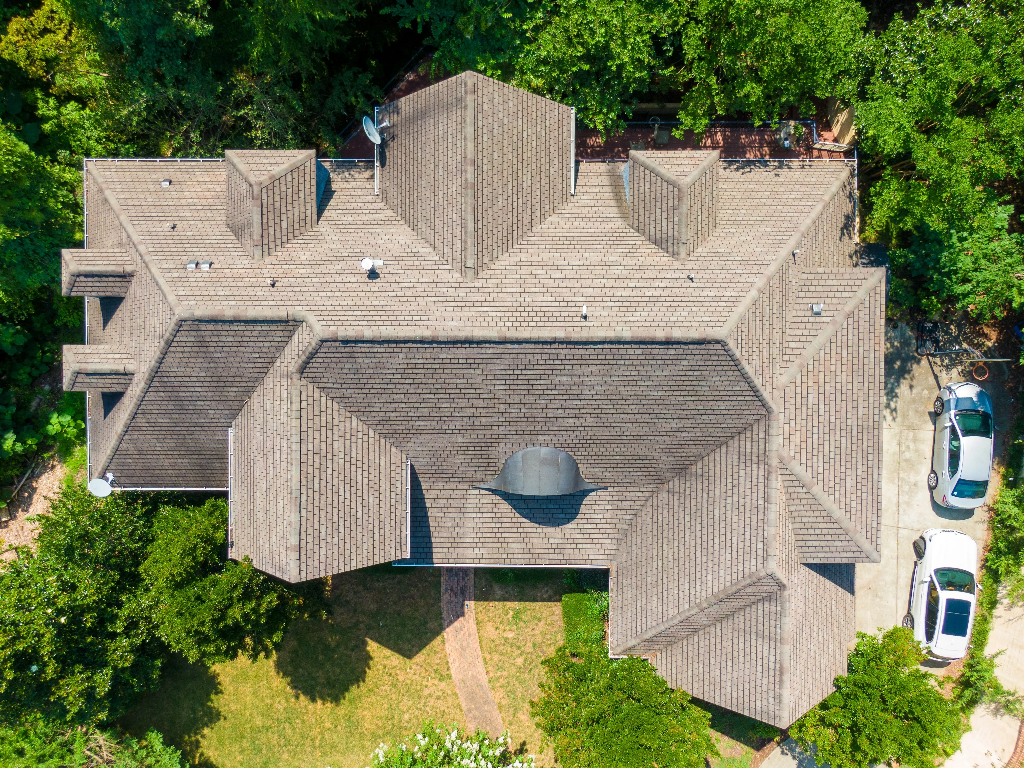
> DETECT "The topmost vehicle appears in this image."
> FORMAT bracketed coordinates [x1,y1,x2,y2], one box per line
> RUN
[928,380,1003,511]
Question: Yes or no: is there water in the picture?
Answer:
No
